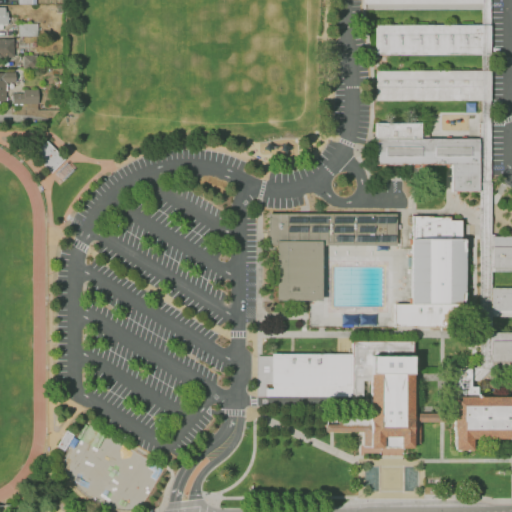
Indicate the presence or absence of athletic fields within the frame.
Yes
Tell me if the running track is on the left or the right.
left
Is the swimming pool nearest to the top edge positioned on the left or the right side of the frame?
right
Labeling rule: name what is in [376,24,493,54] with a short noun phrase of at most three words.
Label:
building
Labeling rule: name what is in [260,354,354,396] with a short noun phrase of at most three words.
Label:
building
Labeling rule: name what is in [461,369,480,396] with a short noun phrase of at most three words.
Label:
shed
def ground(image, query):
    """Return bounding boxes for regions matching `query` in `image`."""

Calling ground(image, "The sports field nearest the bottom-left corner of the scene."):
[0,164,34,486]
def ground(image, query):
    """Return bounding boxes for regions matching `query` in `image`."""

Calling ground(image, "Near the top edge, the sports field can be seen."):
[56,0,321,160]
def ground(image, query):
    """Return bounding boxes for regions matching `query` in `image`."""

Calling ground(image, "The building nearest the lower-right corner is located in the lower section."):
[456,398,512,452]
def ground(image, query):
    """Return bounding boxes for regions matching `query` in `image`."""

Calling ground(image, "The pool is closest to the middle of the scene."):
[330,263,386,310]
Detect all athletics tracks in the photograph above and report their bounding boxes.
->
[0,146,46,504]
